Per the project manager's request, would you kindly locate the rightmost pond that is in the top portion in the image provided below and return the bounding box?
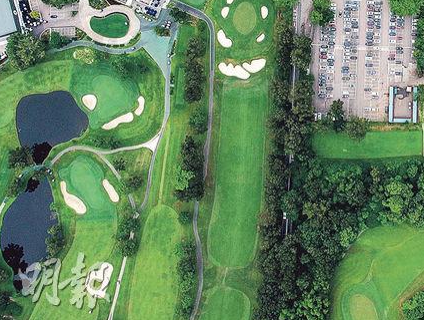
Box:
[16,91,87,162]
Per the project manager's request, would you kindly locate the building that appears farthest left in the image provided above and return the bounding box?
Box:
[0,0,31,53]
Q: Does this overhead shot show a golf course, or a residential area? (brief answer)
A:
golf course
